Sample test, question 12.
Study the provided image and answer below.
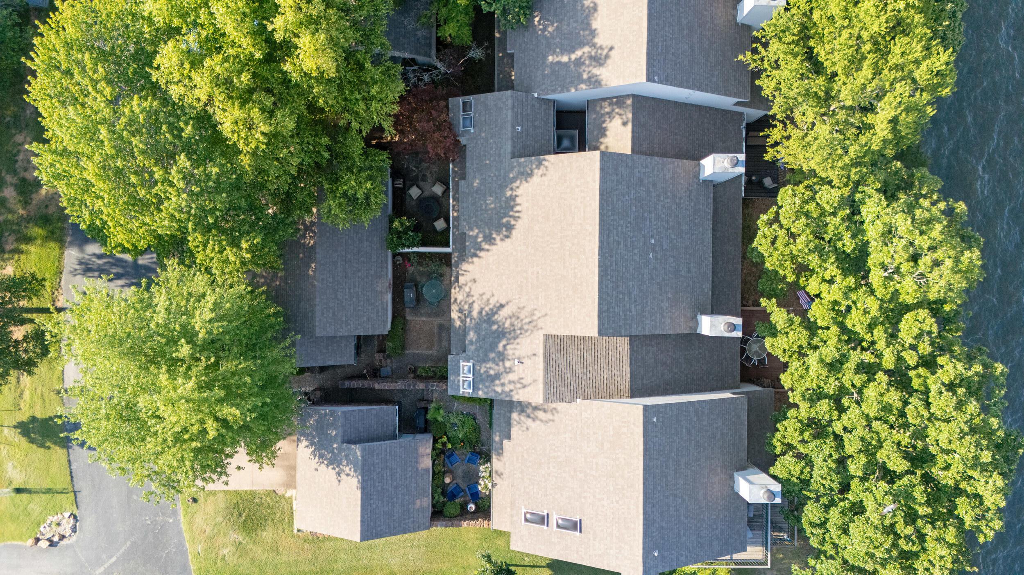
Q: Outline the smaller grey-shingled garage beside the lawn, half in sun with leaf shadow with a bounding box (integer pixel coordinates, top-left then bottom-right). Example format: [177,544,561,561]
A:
[297,396,432,542]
